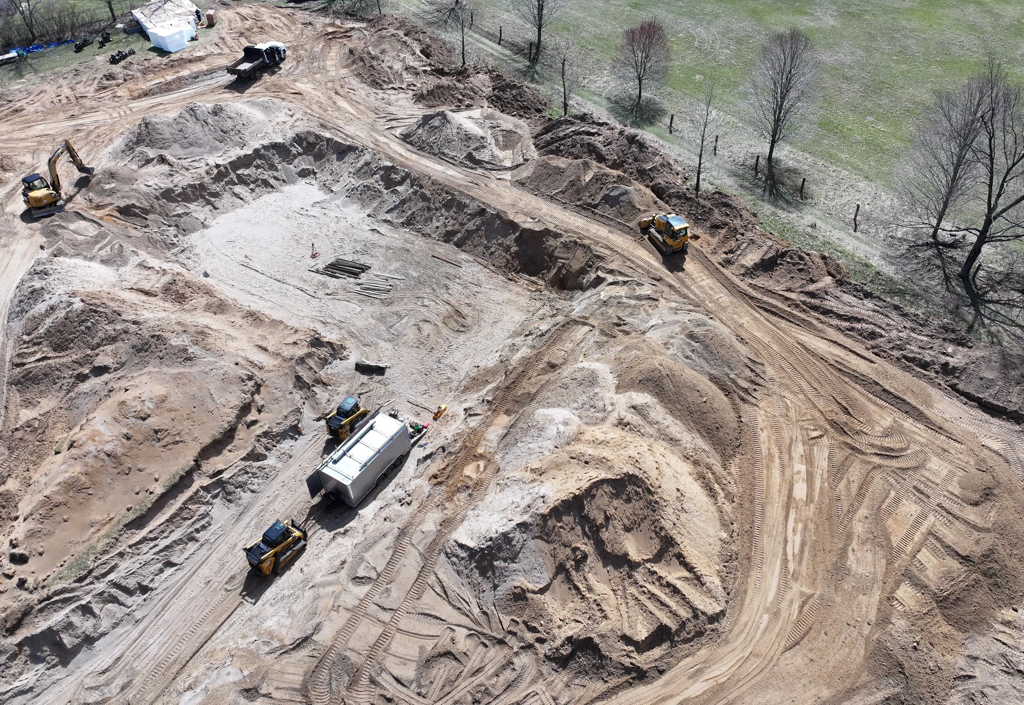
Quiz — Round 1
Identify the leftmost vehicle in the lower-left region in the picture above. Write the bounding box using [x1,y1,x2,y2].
[242,520,315,580]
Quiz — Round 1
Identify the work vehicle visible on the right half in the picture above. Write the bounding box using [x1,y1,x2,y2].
[634,207,686,252]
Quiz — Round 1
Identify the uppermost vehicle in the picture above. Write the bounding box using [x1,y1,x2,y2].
[230,47,286,83]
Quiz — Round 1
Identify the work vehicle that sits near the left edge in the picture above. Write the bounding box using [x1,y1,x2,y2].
[19,137,96,215]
